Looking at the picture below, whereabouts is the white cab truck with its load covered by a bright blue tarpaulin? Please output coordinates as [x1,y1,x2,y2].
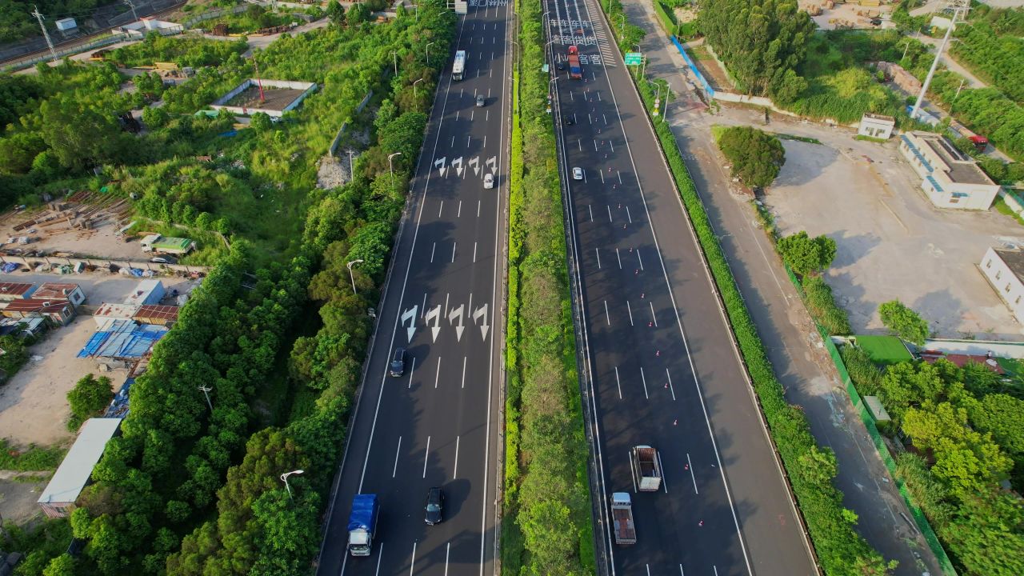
[350,489,382,552]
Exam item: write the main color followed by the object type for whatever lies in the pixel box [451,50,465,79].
white vehicle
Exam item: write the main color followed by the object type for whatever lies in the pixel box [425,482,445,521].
black car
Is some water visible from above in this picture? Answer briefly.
No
